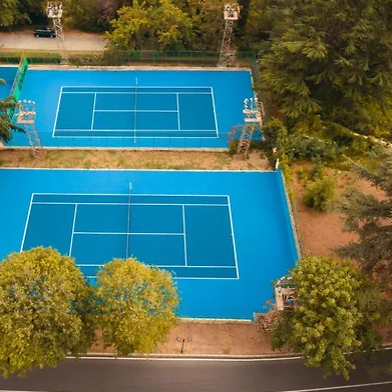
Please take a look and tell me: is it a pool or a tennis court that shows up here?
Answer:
tennis court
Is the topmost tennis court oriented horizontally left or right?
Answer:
left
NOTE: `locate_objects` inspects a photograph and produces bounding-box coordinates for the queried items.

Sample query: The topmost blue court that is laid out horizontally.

[4,68,265,149]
